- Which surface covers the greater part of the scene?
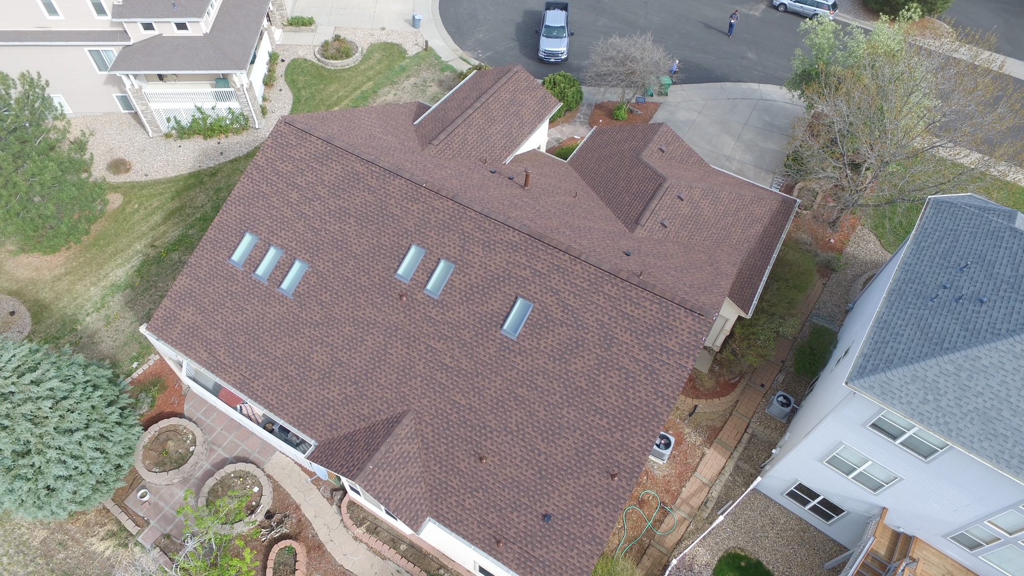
buildings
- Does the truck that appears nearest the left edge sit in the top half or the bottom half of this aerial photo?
top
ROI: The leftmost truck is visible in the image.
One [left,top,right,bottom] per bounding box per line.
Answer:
[535,0,577,59]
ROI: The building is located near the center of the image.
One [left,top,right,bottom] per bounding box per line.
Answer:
[142,63,801,576]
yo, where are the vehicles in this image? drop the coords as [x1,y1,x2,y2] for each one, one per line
[535,0,577,59]
[772,0,838,21]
